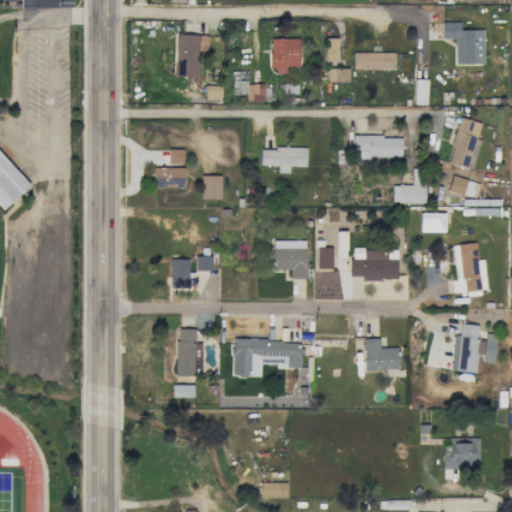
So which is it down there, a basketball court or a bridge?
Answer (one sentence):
The one in the frame is a bridge.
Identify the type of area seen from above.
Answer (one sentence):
This image shows a residential area.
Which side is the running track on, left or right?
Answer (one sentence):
You can find the running track on the left side of the picture.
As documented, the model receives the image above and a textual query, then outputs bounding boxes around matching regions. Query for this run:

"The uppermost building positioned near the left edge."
[0,148,32,208]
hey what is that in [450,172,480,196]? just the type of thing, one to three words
barn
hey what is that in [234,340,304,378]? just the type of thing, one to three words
house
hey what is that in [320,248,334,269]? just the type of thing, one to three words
shed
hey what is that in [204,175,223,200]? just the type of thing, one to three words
house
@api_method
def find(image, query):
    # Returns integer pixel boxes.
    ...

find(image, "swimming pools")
[206,342,216,368]
[374,390,388,403]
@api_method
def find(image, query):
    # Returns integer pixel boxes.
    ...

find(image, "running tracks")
[0,404,49,512]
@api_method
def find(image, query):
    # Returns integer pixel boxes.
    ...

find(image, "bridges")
[82,385,124,430]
